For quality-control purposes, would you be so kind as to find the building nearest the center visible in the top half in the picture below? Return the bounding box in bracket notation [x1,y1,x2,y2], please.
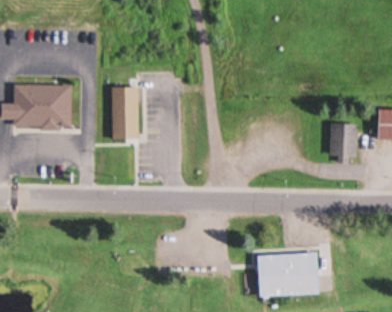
[112,87,138,140]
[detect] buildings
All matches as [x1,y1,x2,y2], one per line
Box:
[378,110,392,141]
[112,87,138,140]
[246,252,320,304]
[330,123,357,168]
[0,85,72,129]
